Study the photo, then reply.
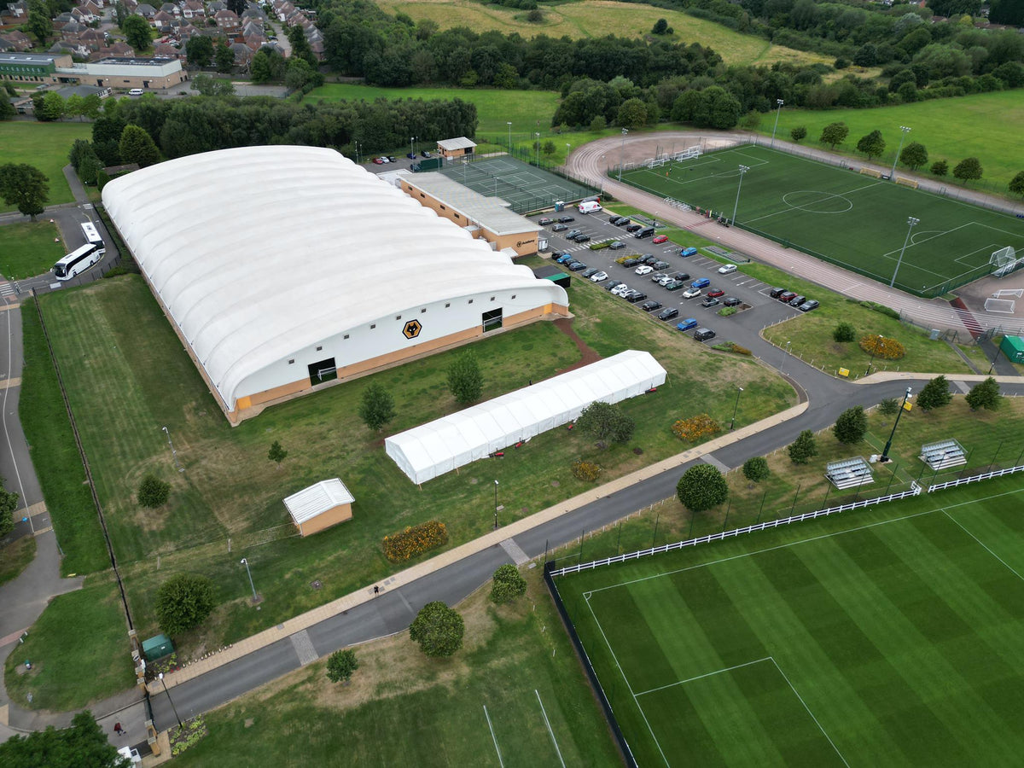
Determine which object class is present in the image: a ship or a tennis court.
tennis court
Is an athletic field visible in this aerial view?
Yes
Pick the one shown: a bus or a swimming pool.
bus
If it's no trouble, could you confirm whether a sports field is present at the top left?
No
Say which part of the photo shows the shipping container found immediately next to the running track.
right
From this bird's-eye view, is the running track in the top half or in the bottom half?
top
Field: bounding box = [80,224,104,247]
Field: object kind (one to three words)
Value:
bus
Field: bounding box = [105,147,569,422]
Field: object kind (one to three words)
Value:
building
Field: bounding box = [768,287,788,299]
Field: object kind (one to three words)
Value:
vehicle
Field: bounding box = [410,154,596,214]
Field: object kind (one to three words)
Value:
tennis court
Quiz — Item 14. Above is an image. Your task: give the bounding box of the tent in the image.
[388,350,676,489]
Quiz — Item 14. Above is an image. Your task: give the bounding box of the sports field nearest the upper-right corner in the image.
[606,141,1024,297]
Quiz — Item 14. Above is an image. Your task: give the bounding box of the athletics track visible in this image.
[566,131,1024,337]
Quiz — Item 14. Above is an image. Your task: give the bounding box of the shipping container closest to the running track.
[980,332,1024,362]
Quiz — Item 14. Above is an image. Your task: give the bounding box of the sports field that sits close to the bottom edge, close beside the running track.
[549,467,1024,768]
